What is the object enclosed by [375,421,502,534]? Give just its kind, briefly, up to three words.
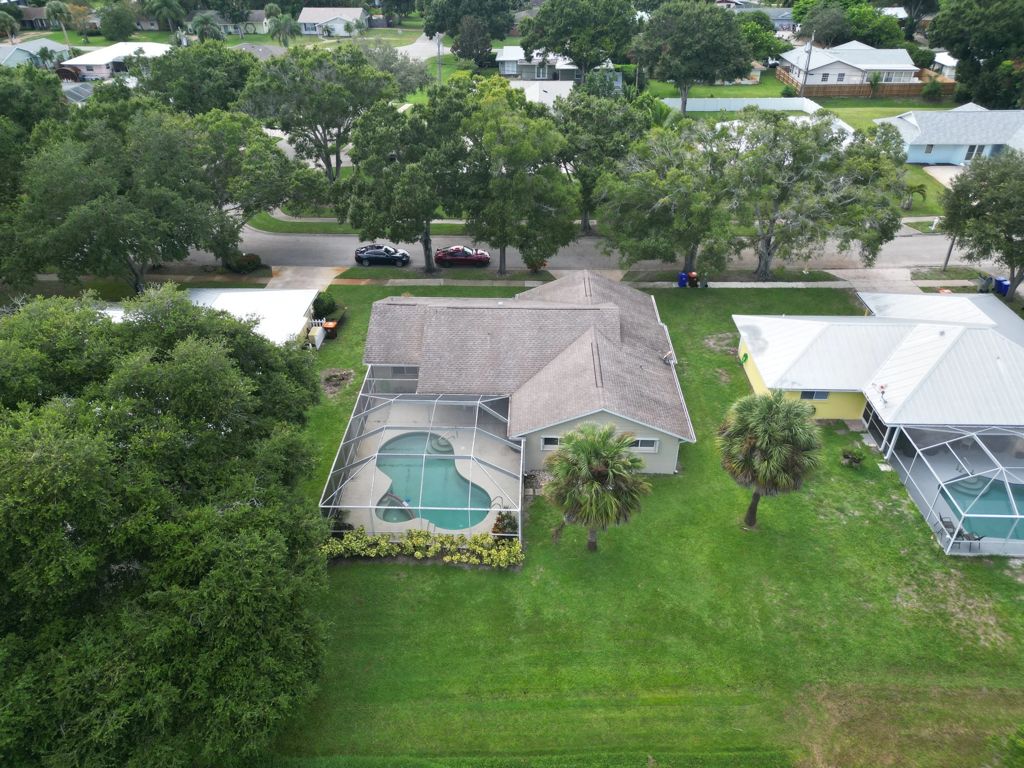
swimming pool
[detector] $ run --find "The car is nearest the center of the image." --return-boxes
[433,244,493,267]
